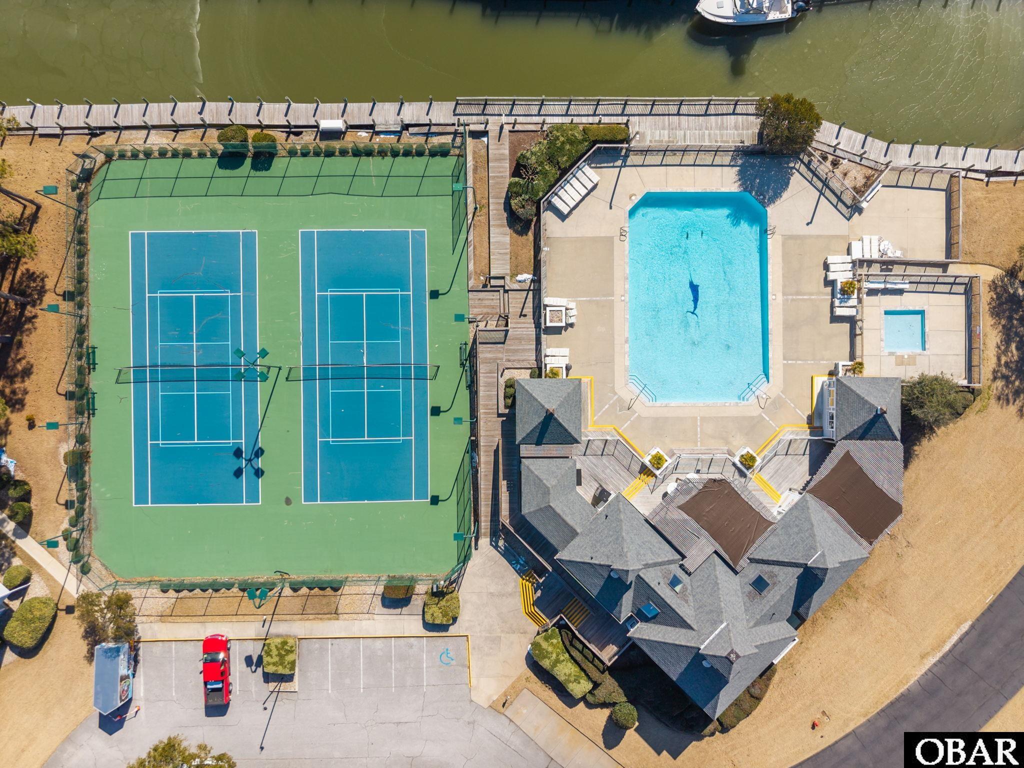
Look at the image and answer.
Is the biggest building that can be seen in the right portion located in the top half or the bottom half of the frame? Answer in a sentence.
The biggest building that can be seen in the right portion sits in the bottom half of the picture.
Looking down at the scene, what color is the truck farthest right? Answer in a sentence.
The color of the truck farthest right is red.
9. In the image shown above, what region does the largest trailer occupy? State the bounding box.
[90,633,137,720]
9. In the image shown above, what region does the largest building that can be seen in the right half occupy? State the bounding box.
[521,458,869,720]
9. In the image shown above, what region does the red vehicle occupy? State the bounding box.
[199,631,233,705]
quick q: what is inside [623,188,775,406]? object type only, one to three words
swimming pool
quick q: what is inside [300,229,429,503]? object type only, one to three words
tennis court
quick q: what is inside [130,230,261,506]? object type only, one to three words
tennis court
